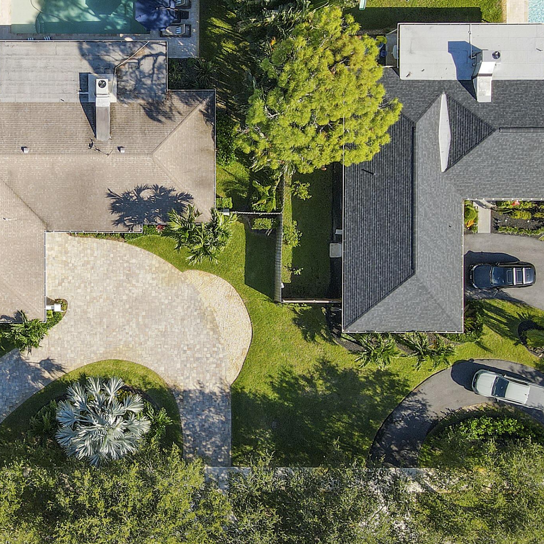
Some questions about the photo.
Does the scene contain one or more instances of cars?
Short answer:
Yes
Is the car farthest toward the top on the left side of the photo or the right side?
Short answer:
right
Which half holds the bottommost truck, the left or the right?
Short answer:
right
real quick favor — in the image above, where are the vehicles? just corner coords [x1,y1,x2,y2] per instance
[466,259,538,293]
[466,369,544,412]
